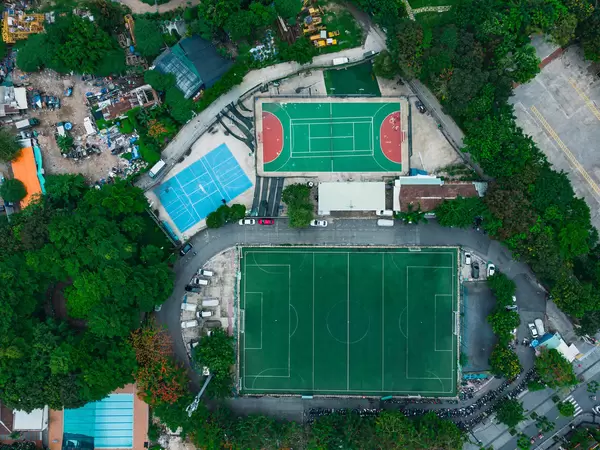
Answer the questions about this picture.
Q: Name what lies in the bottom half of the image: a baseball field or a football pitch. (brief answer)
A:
football pitch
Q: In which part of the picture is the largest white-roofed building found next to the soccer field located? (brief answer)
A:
center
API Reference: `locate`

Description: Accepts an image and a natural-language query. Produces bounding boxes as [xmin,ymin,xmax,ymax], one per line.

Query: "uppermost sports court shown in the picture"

[324,58,381,96]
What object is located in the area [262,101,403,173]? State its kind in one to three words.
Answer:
sports court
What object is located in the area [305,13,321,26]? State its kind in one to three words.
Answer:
vehicle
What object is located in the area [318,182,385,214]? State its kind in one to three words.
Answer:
building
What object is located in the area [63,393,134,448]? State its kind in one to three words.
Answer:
swimming pool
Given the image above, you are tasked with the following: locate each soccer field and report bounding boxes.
[238,247,459,397]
